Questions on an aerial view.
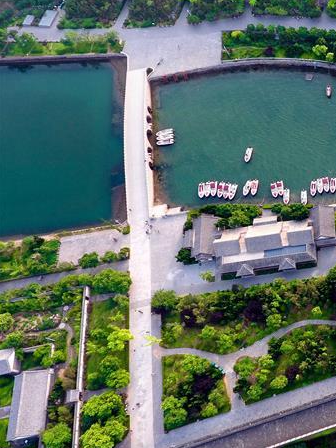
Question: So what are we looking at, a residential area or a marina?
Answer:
marina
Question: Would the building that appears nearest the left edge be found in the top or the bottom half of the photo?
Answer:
bottom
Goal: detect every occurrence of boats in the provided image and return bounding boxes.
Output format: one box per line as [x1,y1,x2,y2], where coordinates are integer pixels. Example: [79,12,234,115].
[217,181,225,197]
[230,183,239,199]
[157,129,174,135]
[330,177,336,191]
[210,180,217,196]
[252,179,259,194]
[283,188,290,202]
[198,181,205,197]
[246,146,253,161]
[276,180,284,195]
[157,134,174,140]
[317,177,324,192]
[158,139,176,145]
[204,181,211,196]
[323,176,330,191]
[310,179,317,195]
[270,181,277,197]
[223,182,230,198]
[244,179,253,194]
[302,189,308,202]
